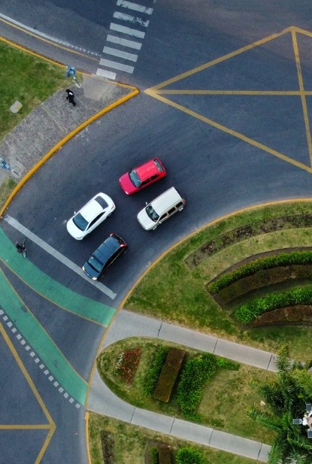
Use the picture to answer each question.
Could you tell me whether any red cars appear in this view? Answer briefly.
Yes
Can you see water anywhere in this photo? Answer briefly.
No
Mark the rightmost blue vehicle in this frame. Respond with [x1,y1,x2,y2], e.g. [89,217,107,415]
[81,229,130,283]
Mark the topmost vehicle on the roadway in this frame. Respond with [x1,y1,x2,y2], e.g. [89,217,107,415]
[115,156,170,197]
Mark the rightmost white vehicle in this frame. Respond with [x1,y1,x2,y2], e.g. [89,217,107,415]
[135,183,188,230]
